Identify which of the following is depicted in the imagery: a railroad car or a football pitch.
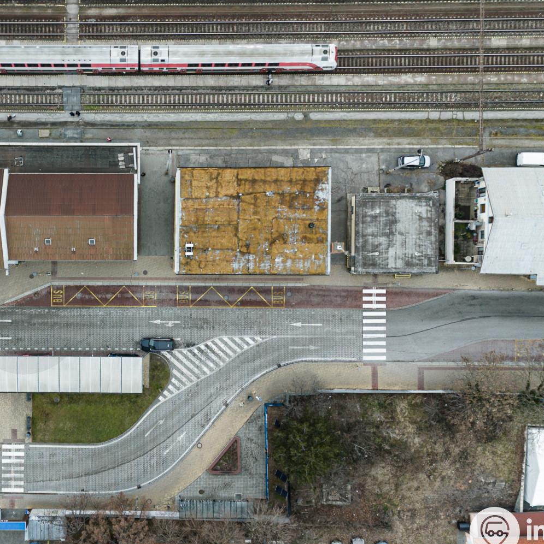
railroad car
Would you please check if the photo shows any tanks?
No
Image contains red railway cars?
No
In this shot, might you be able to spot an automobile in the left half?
Yes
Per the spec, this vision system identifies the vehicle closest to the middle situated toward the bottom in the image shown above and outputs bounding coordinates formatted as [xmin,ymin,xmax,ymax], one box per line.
[140,336,175,353]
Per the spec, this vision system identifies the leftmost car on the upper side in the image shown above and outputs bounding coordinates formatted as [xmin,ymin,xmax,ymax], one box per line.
[396,154,429,170]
